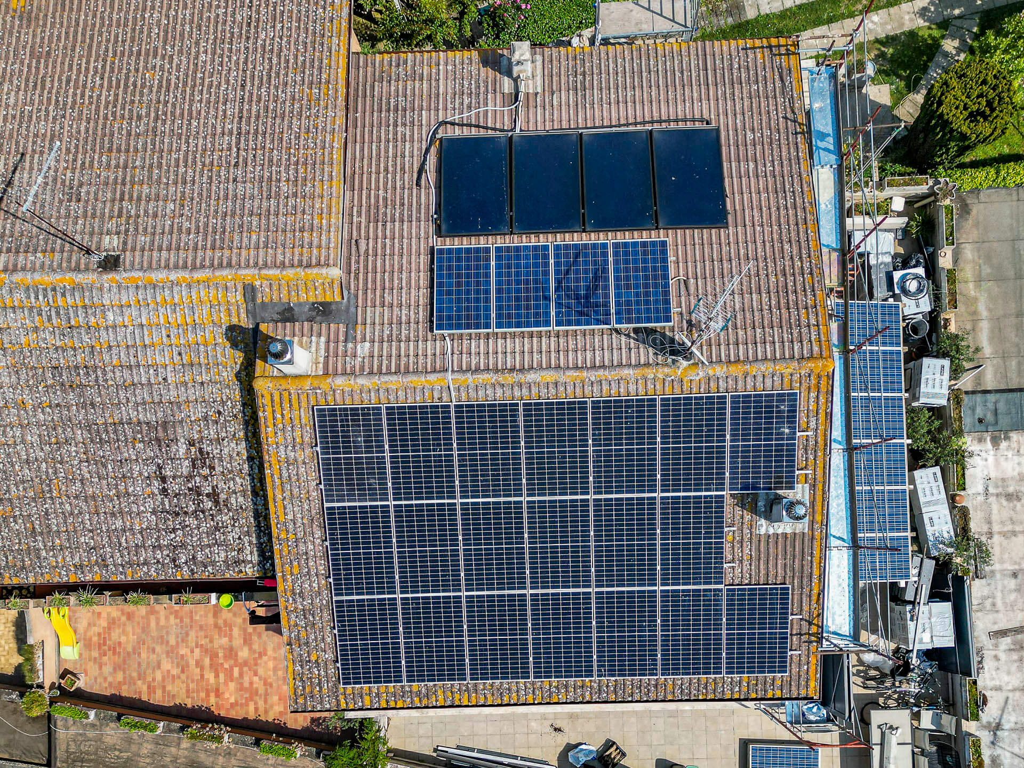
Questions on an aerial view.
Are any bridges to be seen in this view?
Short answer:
No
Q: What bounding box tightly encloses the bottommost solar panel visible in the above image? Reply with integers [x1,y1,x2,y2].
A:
[748,744,821,768]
